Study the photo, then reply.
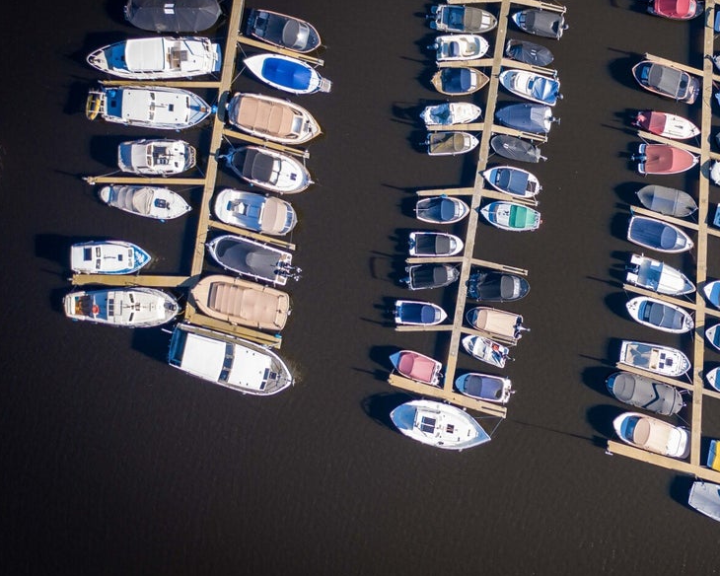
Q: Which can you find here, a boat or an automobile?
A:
boat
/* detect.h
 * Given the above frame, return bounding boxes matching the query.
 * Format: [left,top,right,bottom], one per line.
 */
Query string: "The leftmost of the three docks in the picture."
[61,0,328,350]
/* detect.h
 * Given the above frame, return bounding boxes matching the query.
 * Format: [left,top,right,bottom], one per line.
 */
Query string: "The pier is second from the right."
[385,0,570,422]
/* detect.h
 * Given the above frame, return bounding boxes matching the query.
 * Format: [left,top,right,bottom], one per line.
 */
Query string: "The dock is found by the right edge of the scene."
[603,0,720,487]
